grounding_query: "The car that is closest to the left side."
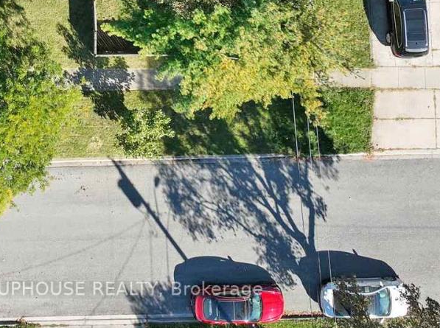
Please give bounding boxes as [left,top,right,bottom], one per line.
[191,279,281,325]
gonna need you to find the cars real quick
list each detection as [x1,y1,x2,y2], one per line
[386,0,432,58]
[191,279,281,325]
[316,274,408,320]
